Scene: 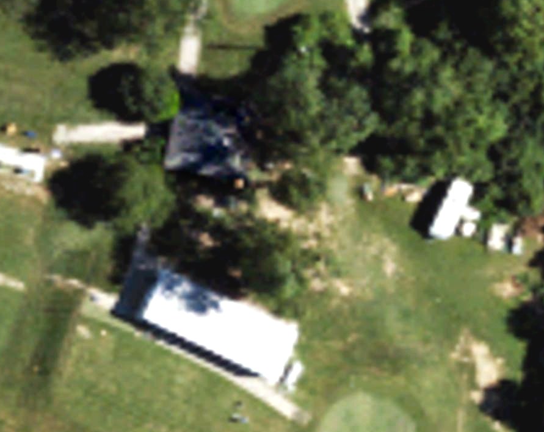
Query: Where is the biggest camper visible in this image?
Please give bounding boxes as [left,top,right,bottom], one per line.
[432,178,471,239]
